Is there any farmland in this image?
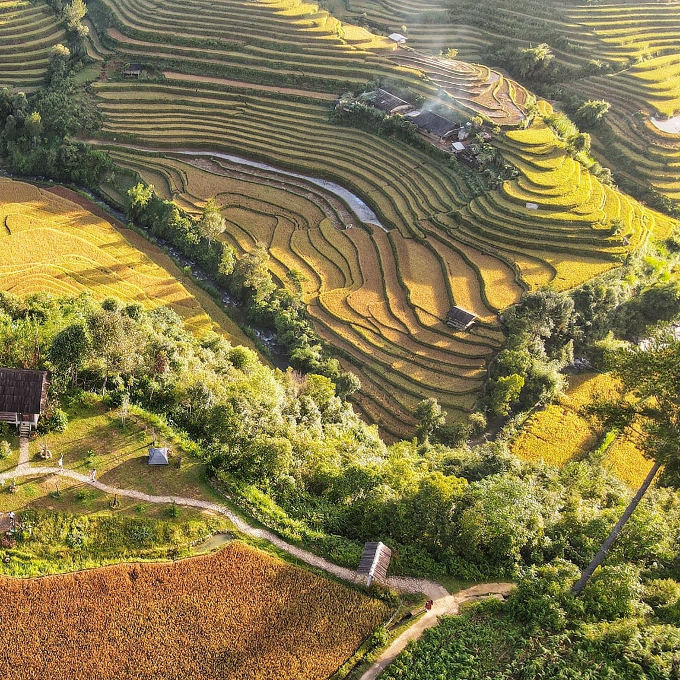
Yes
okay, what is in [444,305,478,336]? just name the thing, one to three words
shed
